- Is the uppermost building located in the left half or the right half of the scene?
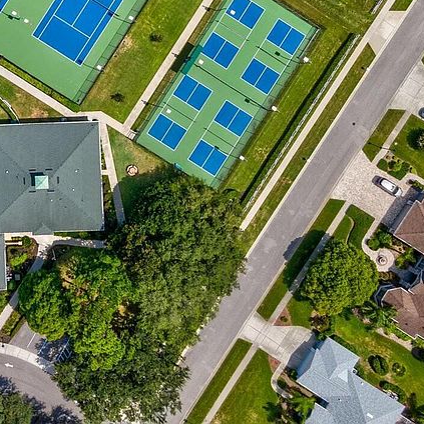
left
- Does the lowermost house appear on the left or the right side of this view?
right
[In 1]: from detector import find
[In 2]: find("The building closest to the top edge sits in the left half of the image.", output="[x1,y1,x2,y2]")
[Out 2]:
[0,120,105,236]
